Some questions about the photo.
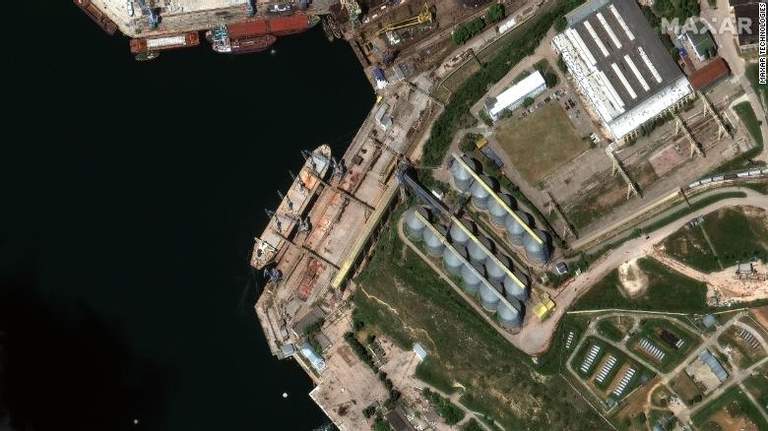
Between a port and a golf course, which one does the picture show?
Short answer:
port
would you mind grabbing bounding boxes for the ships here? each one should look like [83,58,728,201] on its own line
[130,31,200,54]
[212,34,276,54]
[250,144,332,268]
[207,13,320,43]
[76,0,117,36]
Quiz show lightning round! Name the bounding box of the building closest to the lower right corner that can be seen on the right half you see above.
[698,347,729,383]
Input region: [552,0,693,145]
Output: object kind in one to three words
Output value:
building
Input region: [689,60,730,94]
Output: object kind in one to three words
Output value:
building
